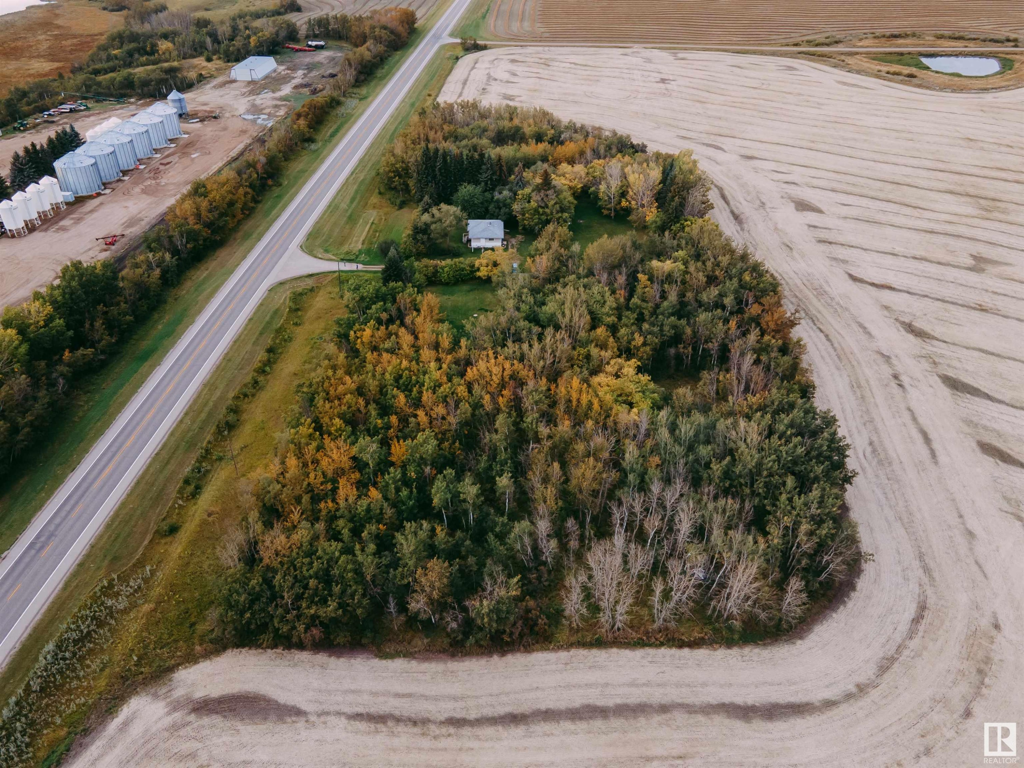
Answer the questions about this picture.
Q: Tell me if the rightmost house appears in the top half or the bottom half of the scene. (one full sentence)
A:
It is in the top half that the rightmost house appears.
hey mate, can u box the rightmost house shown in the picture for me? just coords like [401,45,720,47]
[468,217,505,247]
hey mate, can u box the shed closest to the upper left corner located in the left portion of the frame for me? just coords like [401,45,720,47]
[229,53,277,81]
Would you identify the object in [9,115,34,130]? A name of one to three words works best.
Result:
work vehicle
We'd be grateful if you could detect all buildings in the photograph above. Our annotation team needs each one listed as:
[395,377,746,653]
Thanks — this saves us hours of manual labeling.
[229,53,277,81]
[468,217,505,247]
